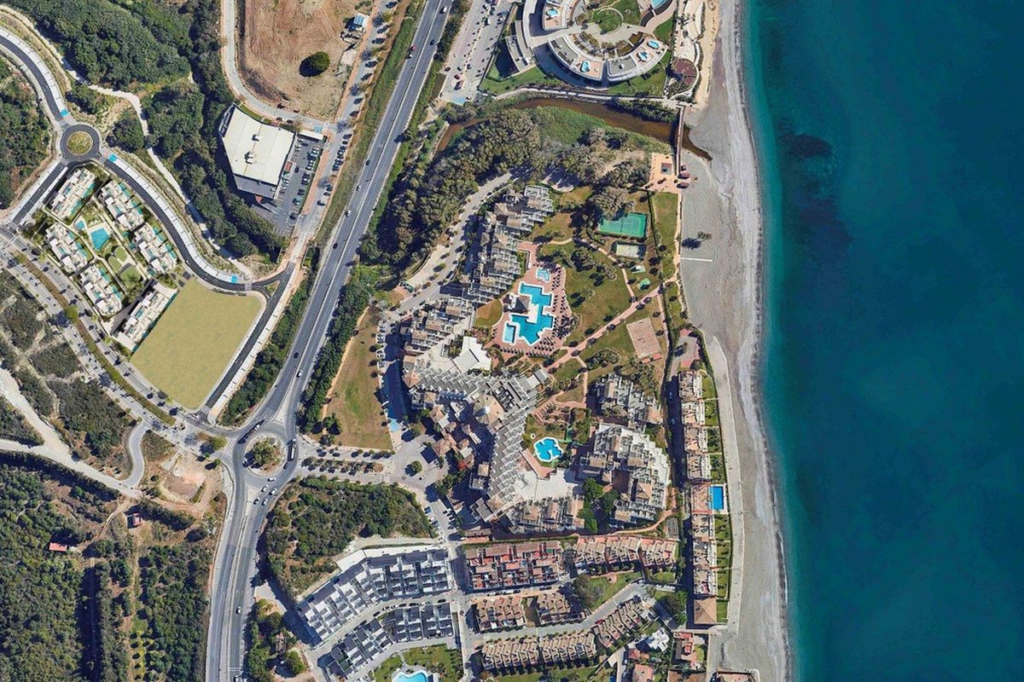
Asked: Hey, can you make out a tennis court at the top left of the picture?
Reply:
No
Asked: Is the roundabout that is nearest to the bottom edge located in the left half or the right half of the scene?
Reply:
left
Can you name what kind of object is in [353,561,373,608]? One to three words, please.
house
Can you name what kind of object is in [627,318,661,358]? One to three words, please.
sports court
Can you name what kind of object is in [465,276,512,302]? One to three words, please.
building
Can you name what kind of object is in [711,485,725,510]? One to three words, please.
swimming pool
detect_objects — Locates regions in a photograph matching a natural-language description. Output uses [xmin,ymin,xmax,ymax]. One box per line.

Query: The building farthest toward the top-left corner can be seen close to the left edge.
[50,167,101,227]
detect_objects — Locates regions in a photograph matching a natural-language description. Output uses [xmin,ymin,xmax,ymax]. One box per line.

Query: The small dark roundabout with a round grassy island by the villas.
[57,119,103,165]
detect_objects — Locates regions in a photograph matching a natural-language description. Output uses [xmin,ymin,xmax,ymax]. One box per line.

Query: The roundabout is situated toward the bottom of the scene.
[230,419,299,489]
